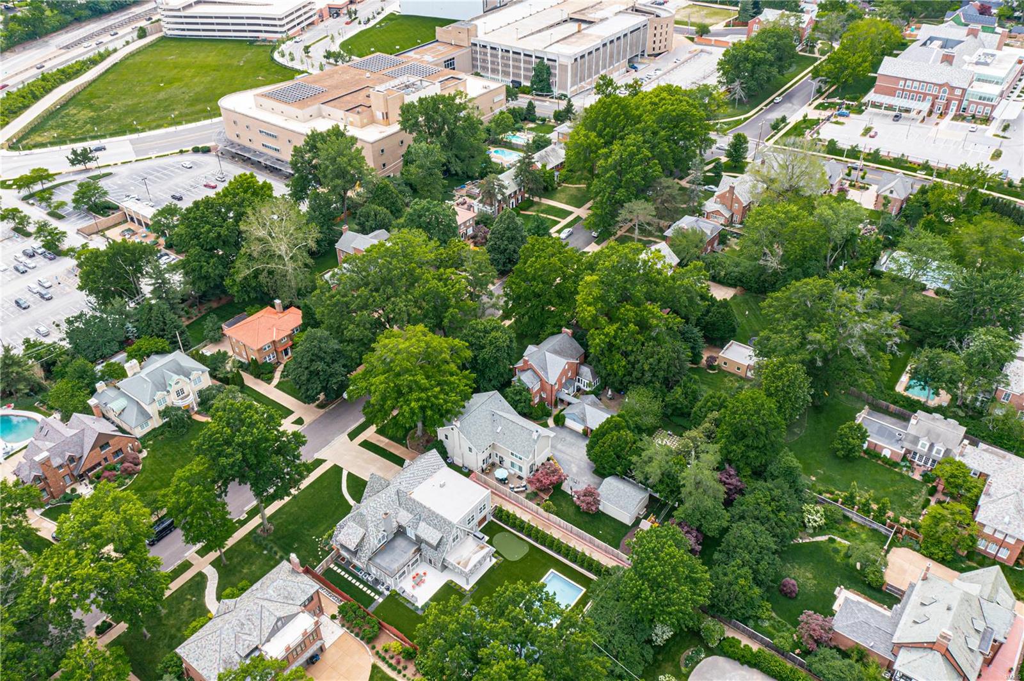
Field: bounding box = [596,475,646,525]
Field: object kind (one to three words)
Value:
building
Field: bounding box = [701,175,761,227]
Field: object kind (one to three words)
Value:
house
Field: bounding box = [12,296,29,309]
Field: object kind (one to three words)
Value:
vehicle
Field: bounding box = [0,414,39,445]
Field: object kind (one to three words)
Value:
swimming pool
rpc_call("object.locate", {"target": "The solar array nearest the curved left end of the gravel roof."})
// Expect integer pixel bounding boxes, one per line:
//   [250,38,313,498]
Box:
[265,81,323,102]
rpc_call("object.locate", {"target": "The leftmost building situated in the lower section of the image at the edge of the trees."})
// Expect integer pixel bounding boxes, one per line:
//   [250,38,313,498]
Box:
[13,413,137,501]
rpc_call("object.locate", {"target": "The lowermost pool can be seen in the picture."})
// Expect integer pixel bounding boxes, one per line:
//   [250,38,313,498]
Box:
[527,569,585,618]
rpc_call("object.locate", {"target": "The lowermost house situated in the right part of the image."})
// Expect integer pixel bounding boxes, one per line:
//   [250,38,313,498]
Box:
[830,561,1016,681]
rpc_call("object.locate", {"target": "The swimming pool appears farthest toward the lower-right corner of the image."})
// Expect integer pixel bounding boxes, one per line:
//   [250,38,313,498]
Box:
[895,369,952,407]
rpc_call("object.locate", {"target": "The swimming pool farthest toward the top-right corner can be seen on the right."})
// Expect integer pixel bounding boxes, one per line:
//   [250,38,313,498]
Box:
[877,250,957,291]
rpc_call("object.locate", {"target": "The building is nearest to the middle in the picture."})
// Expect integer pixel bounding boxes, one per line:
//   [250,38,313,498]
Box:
[512,327,600,408]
